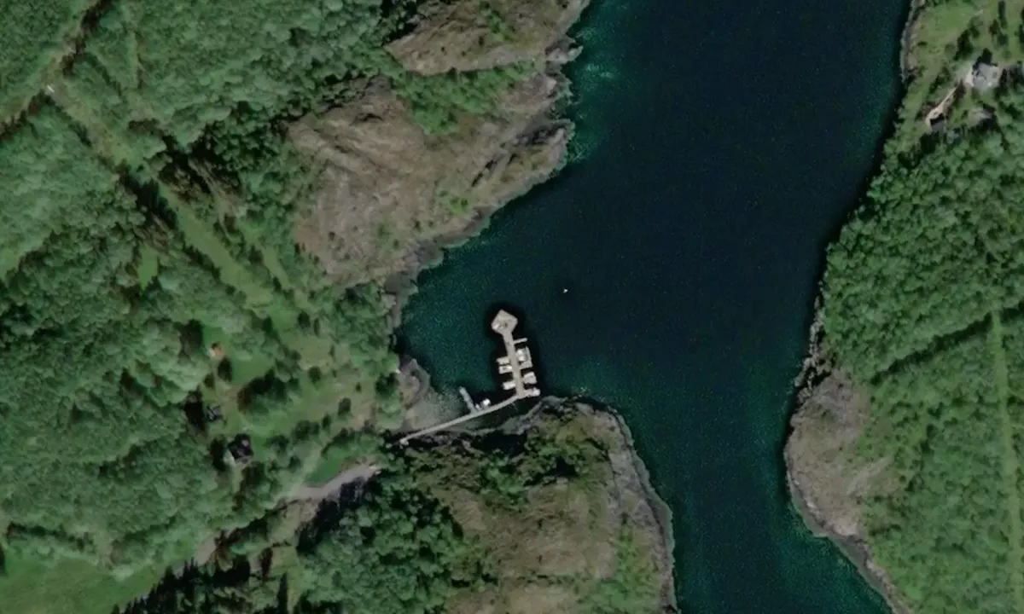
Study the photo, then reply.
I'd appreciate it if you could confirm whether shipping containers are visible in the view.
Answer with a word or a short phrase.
No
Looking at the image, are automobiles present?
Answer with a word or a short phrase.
No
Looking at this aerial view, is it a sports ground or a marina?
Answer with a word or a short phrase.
marina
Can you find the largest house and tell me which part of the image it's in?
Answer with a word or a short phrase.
top right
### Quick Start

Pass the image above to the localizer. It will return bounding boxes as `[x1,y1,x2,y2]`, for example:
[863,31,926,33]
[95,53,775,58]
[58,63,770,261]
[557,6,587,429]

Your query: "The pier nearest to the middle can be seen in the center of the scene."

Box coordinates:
[492,309,536,399]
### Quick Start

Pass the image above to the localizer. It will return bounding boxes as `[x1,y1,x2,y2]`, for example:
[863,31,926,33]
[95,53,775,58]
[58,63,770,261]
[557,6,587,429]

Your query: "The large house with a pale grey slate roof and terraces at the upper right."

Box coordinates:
[969,64,999,89]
